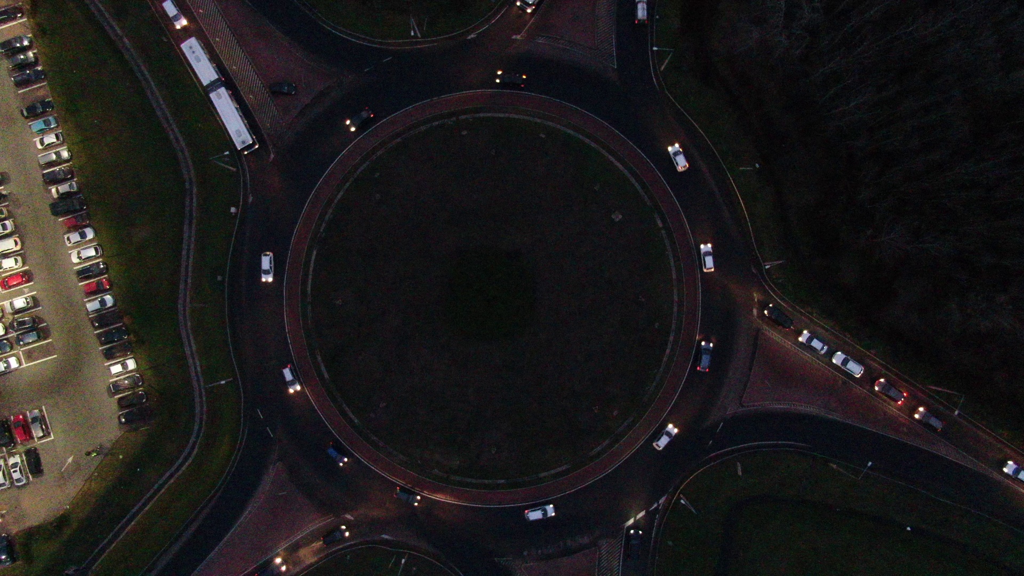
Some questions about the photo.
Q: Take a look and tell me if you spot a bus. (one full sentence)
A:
Yes, you can see a bus in this photo.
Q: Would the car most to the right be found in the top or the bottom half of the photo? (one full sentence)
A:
Seen from above, the car most to the right lies in the bottom half of the view.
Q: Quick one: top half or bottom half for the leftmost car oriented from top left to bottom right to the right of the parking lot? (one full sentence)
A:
Seen from above, the leftmost car oriented from top left to bottom right to the right of the parking lot lies in the top half of the view.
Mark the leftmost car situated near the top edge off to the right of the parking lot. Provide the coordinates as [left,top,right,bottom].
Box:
[162,0,186,27]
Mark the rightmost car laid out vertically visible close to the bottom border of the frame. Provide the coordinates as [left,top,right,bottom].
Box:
[628,529,642,560]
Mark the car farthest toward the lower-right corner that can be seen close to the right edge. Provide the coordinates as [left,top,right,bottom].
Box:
[1002,464,1024,487]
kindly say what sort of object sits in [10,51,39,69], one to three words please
car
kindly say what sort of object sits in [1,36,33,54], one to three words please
car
